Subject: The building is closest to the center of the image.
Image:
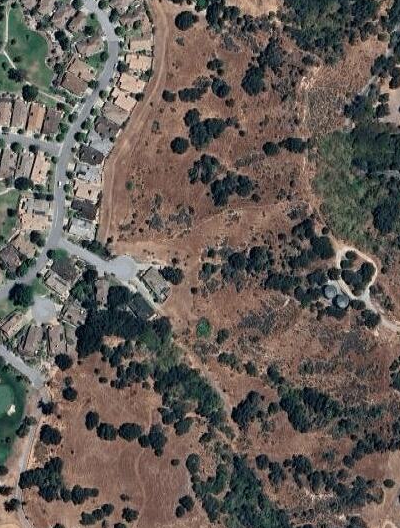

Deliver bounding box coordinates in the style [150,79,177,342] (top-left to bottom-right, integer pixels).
[143,270,170,296]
